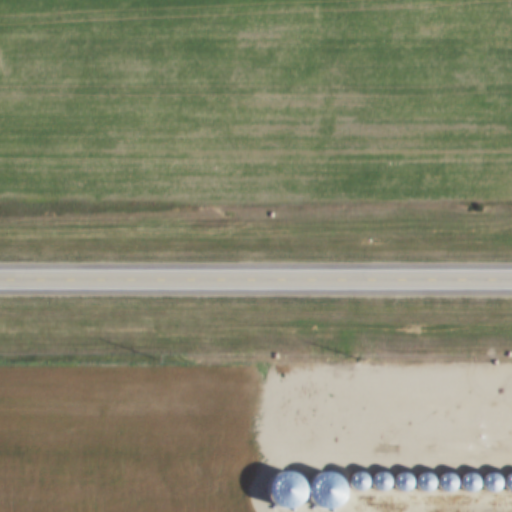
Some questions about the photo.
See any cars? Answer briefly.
No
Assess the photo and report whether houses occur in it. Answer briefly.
No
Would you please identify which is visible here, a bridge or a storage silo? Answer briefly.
storage silo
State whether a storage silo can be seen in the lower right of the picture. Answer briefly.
Yes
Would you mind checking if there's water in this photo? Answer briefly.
No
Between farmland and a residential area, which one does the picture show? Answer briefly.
farmland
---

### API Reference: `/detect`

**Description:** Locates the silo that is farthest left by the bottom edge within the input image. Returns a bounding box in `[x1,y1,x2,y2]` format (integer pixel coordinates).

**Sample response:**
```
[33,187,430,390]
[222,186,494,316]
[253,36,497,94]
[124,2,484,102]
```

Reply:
[270,470,310,512]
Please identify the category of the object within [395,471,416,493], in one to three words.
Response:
silo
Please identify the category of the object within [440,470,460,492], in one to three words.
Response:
silo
